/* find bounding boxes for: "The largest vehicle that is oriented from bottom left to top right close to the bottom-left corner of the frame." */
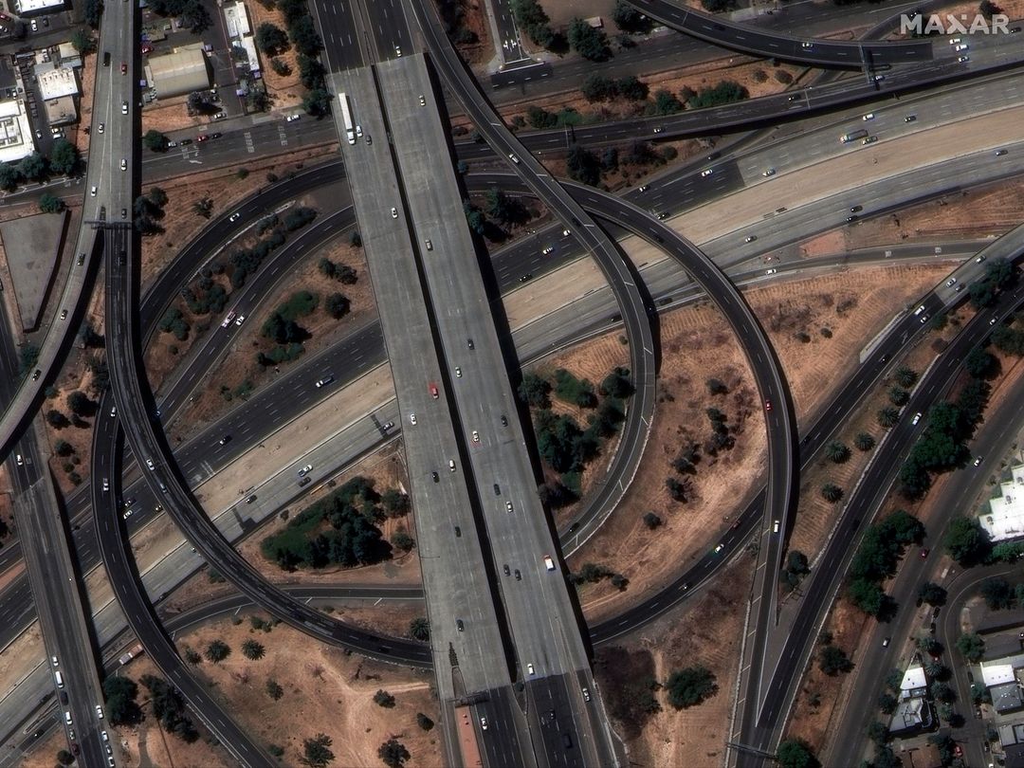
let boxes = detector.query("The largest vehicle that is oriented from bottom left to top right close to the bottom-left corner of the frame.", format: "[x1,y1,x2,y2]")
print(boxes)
[113,645,144,667]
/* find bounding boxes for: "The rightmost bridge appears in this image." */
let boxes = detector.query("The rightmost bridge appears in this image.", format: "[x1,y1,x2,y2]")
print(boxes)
[864,223,1024,389]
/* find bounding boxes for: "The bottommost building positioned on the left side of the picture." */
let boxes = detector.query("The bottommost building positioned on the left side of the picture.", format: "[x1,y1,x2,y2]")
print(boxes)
[0,210,67,331]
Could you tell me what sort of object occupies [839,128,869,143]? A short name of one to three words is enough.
vehicle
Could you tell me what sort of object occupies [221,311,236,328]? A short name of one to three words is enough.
vehicle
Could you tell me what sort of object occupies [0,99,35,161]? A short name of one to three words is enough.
building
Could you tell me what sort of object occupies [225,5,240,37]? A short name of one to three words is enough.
shed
